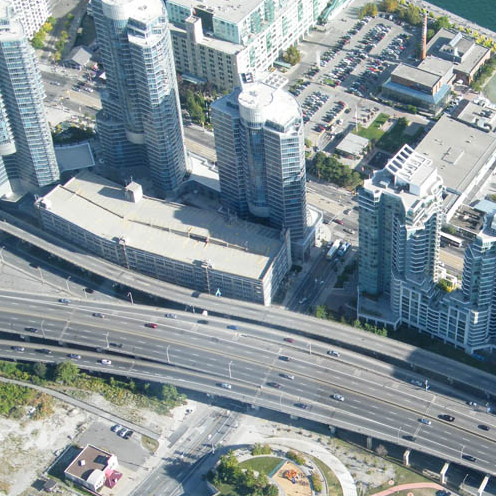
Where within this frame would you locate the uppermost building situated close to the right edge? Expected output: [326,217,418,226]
[422,28,493,81]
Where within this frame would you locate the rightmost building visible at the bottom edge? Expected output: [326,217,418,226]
[65,443,121,490]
